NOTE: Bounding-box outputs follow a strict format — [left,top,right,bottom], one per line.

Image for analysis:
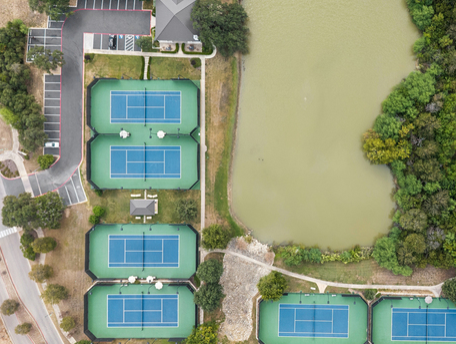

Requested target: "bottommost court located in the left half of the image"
[88,285,196,338]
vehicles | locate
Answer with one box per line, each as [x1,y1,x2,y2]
[109,35,117,49]
[44,141,60,148]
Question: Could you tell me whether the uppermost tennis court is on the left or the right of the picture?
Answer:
left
